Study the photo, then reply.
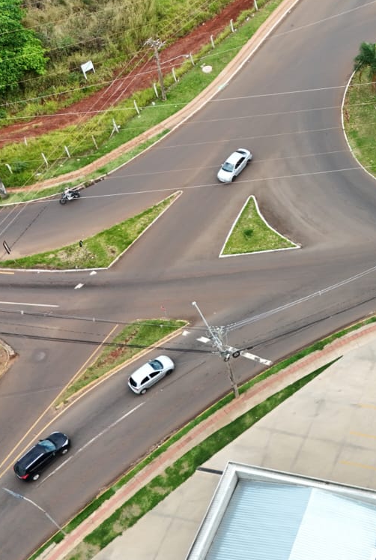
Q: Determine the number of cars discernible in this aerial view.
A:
3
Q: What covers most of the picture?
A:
paved ground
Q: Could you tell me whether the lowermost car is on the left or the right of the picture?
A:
left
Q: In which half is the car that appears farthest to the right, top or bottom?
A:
top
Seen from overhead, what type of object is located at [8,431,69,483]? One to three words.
car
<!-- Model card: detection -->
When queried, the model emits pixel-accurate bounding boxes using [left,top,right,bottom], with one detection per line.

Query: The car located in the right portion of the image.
[216,148,252,182]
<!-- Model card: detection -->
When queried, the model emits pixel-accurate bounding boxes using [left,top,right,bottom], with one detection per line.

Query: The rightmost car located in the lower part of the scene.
[124,354,175,395]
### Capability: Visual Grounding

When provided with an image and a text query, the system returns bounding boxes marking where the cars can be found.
[124,354,175,395]
[8,431,69,483]
[216,148,252,182]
